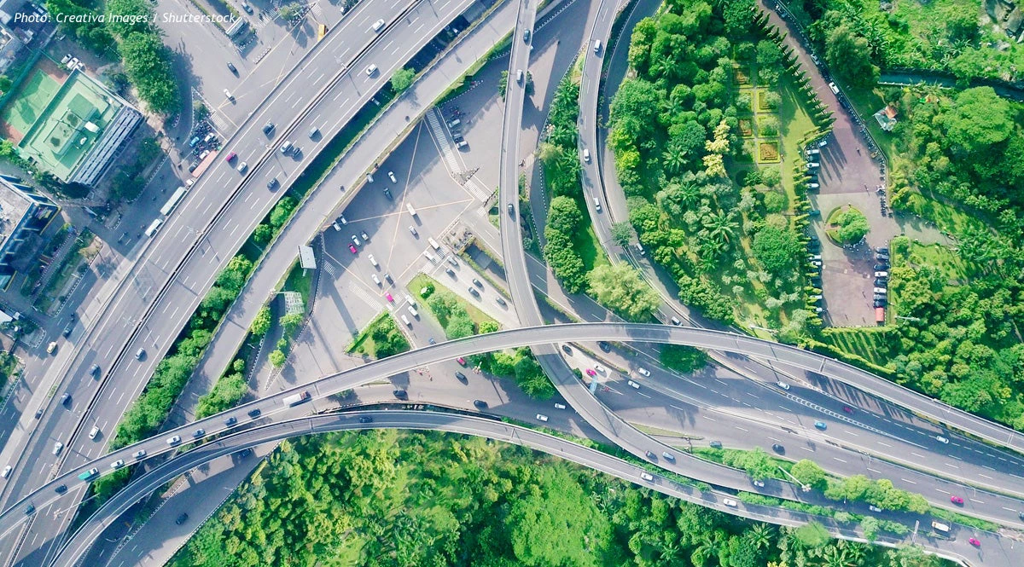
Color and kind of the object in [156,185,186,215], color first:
white bus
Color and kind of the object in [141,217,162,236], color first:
white vehicle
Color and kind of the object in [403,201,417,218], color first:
white vehicle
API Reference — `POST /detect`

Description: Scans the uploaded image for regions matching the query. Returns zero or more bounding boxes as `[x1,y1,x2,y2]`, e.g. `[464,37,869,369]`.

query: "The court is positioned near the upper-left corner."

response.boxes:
[0,56,69,143]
